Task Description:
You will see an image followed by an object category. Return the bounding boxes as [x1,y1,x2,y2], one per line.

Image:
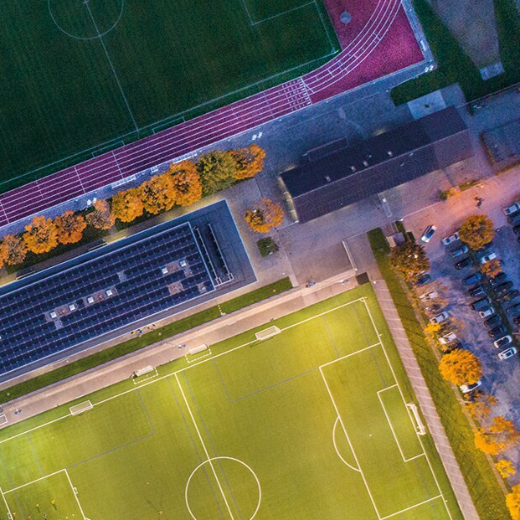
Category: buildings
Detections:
[386,233,407,248]
[0,199,281,384]
[278,105,475,221]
